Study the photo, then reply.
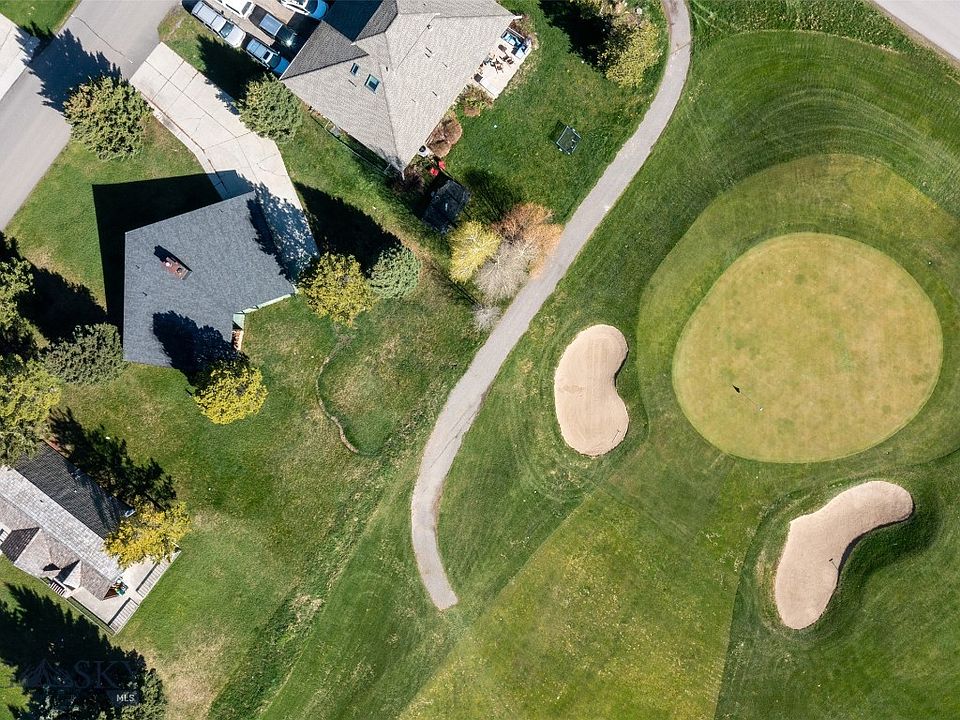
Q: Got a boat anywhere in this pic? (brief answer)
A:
No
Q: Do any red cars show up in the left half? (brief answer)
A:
No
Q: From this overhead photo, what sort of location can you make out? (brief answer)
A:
golf course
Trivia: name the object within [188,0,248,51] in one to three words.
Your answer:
car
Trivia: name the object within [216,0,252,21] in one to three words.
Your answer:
car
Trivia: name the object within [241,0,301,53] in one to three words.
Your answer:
truck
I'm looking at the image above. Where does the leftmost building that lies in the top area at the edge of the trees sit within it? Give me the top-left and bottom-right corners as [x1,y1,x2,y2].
[123,190,302,372]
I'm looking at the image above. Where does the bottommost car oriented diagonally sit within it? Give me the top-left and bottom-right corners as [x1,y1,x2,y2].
[242,35,291,79]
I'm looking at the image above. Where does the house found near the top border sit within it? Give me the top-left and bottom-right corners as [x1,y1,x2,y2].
[279,0,523,172]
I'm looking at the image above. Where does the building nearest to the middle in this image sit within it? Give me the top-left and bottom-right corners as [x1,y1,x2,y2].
[421,180,472,234]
